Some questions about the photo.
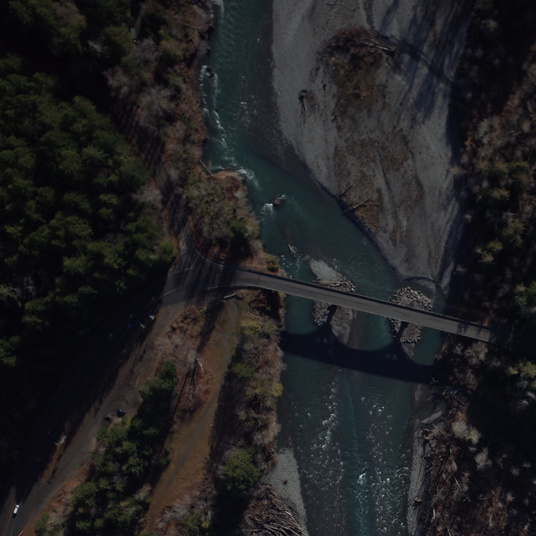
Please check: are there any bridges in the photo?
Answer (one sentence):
Yes, the photo shows a bridge.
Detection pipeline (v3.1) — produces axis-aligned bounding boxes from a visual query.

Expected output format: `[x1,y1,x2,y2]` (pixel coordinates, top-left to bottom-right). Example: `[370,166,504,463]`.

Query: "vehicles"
[118,408,125,416]
[13,504,20,514]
